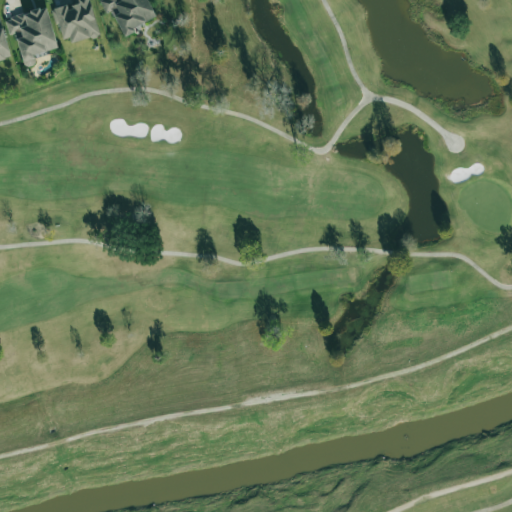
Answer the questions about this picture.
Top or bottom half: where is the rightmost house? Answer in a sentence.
The top half of the photo is where the rightmost house is.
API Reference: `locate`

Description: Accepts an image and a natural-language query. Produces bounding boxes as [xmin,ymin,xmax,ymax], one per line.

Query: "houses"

[107,0,156,36]
[6,5,58,68]
[53,0,100,44]
[0,26,12,63]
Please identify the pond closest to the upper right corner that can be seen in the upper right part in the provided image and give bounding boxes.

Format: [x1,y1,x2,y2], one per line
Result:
[361,0,491,104]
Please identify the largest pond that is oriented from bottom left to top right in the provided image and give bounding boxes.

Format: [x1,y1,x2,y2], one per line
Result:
[331,262,396,354]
